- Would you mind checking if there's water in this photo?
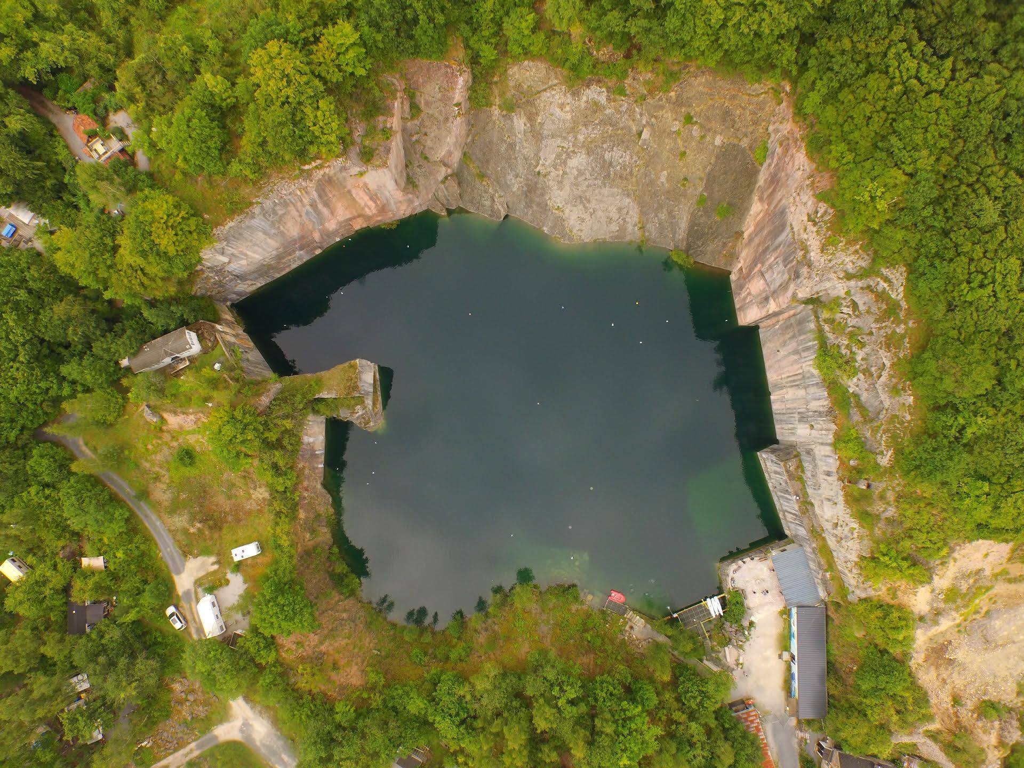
Yes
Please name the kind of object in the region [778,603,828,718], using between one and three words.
building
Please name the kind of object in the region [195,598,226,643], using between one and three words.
camper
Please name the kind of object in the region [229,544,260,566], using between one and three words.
camper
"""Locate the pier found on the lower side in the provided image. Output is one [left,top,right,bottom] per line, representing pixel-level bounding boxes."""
[661,592,728,650]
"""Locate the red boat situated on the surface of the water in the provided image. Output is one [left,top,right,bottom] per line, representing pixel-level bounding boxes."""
[609,590,626,602]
